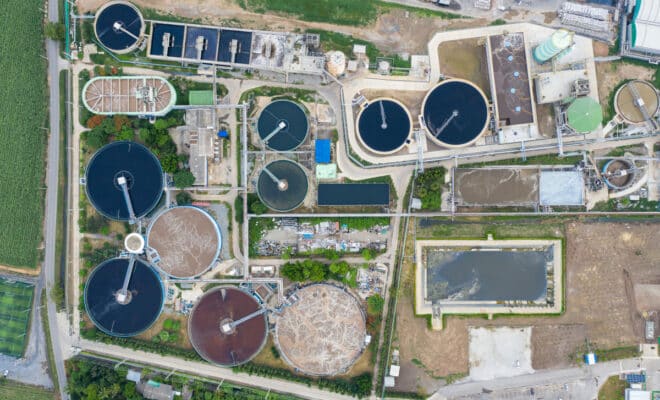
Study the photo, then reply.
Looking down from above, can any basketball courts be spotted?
No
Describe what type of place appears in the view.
industrial area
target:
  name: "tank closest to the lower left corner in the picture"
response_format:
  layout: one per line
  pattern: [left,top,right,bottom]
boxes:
[84,256,168,338]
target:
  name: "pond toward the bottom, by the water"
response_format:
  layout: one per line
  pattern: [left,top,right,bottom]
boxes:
[415,233,563,330]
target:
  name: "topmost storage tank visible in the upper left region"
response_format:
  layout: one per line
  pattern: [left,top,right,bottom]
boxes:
[93,1,147,54]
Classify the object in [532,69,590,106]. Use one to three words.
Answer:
building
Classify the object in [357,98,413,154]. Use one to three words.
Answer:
storage tank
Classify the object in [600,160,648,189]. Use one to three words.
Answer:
storage tank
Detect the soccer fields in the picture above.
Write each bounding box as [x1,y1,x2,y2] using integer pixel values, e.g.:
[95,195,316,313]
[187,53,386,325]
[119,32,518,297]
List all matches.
[0,280,34,361]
